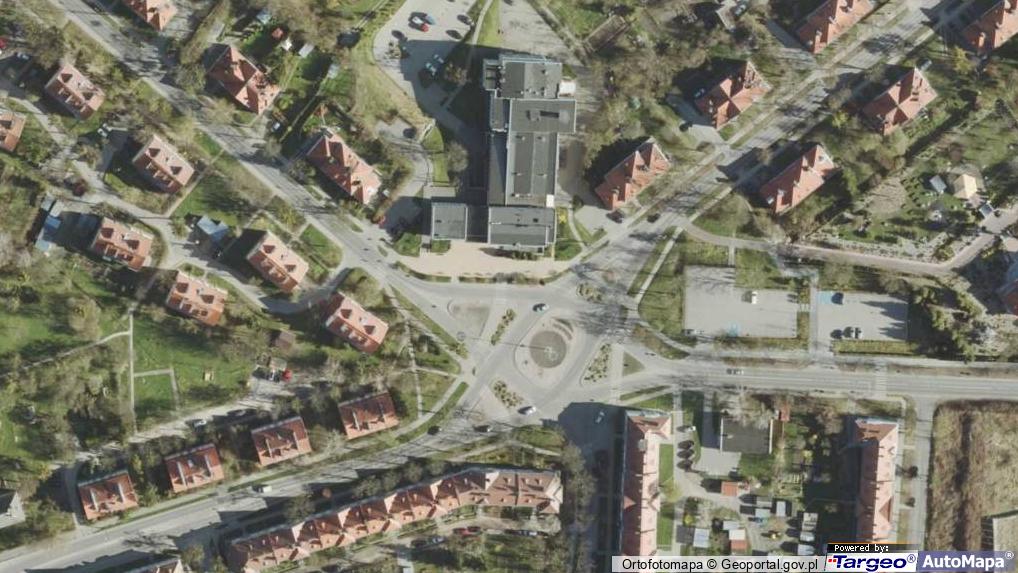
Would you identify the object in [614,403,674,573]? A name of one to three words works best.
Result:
building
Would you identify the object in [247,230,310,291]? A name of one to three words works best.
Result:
house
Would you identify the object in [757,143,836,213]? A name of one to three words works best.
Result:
house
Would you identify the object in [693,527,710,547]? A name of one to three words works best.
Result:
building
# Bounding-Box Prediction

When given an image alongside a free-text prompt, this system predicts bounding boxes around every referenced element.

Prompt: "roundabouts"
[515,310,581,387]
